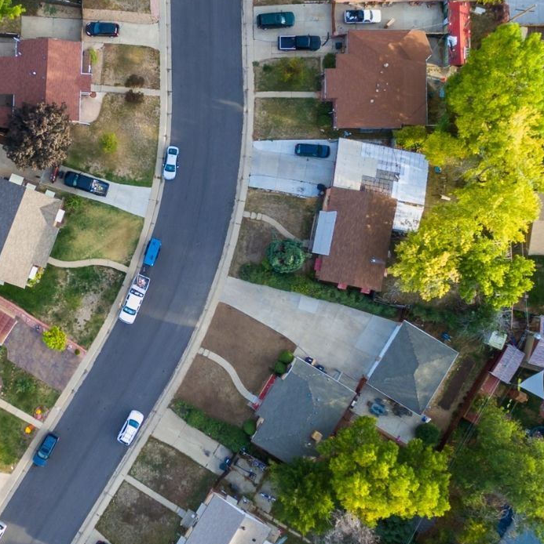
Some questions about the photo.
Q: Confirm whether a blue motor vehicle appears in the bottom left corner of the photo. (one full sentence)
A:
Yes, the scene does show a blue motor vehicle in the bottom left corner of the photo.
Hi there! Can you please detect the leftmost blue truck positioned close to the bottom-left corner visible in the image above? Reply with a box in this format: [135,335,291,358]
[32,430,61,469]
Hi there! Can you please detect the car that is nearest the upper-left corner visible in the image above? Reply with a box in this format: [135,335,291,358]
[86,19,119,37]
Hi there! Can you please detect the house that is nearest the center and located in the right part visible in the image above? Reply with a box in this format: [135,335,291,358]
[311,185,395,294]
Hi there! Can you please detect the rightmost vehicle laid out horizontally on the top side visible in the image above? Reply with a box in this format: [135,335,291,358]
[343,6,382,25]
